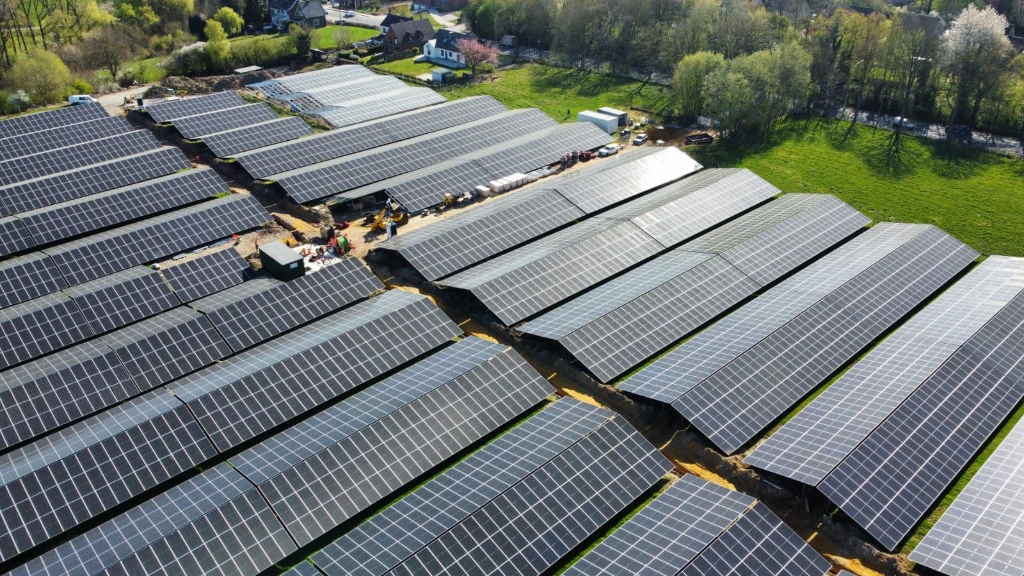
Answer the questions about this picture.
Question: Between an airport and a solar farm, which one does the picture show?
solar farm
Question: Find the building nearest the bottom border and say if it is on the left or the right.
left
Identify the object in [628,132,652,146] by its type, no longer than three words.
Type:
car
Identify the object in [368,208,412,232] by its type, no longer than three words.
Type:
work vehicle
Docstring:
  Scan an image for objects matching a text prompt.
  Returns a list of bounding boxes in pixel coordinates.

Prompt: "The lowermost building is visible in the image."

[256,239,306,280]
